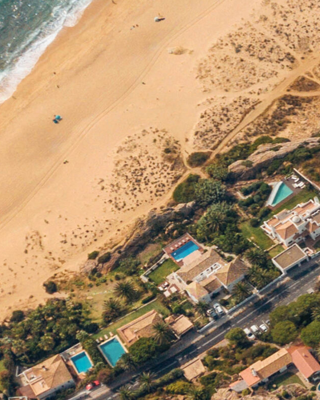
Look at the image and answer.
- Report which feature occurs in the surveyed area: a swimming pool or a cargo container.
swimming pool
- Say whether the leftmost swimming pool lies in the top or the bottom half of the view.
bottom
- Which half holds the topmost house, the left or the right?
right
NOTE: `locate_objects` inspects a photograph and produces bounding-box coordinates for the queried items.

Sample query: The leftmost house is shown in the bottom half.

[16,355,74,400]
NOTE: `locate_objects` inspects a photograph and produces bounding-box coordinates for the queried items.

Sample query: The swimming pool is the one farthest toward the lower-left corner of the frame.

[69,351,96,376]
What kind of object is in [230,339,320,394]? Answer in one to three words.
house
